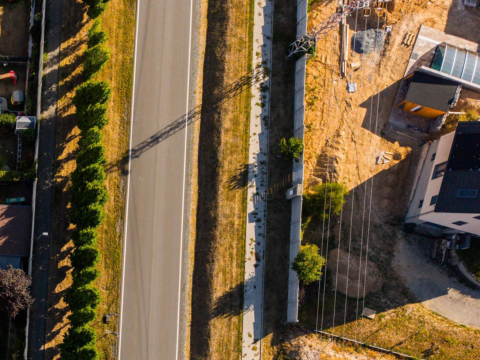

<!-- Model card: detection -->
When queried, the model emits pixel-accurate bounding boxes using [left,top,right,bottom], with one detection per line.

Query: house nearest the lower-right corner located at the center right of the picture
[389,120,480,240]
